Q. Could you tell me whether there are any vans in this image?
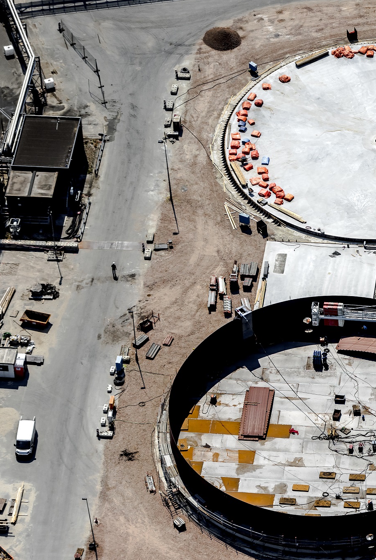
Yes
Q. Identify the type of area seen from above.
industrial area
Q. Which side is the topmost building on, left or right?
left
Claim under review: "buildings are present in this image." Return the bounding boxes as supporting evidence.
[0,346,18,381]
[4,113,84,232]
